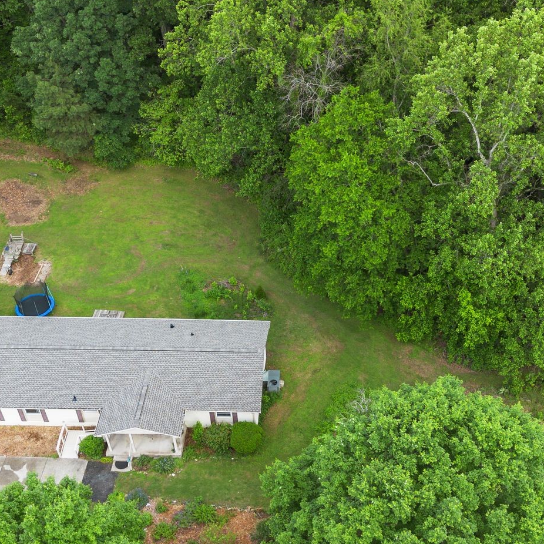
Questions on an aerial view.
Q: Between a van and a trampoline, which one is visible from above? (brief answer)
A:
trampoline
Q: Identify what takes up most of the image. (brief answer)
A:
trees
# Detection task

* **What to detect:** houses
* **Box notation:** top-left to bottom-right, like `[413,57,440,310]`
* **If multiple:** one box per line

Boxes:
[0,314,270,474]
